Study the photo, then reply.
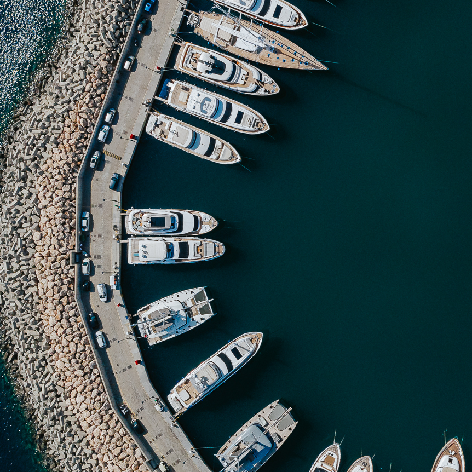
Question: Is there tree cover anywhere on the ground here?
No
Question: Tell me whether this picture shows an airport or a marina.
marina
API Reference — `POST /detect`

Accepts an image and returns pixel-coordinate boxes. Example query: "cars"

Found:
[82,258,92,275]
[95,330,108,349]
[83,278,93,293]
[130,416,145,435]
[104,107,117,125]
[89,311,100,330]
[97,125,112,143]
[137,16,150,35]
[108,172,122,191]
[81,212,91,231]
[89,150,102,170]
[145,0,157,15]
[96,283,108,302]
[123,53,136,71]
